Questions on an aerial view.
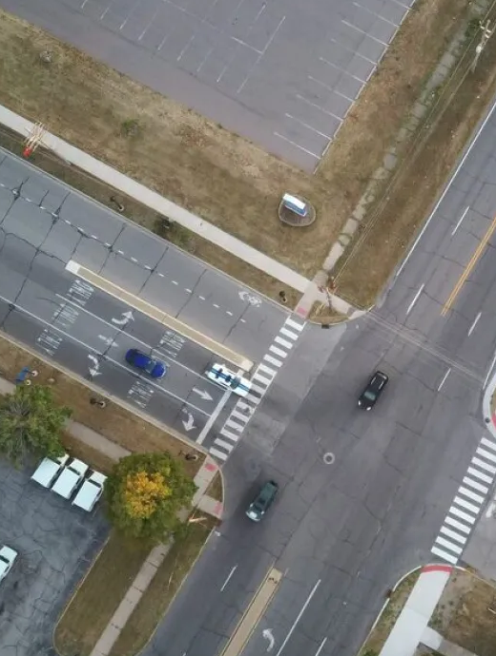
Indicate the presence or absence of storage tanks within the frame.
No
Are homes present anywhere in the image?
No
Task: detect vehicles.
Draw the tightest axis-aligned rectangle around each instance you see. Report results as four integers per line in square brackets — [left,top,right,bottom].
[71,469,113,512]
[50,456,94,500]
[204,363,252,397]
[0,543,21,585]
[359,369,390,412]
[246,479,282,523]
[30,447,75,490]
[124,347,168,377]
